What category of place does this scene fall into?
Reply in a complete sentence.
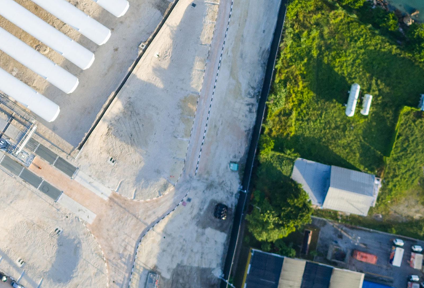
What you see here is an industrial area.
